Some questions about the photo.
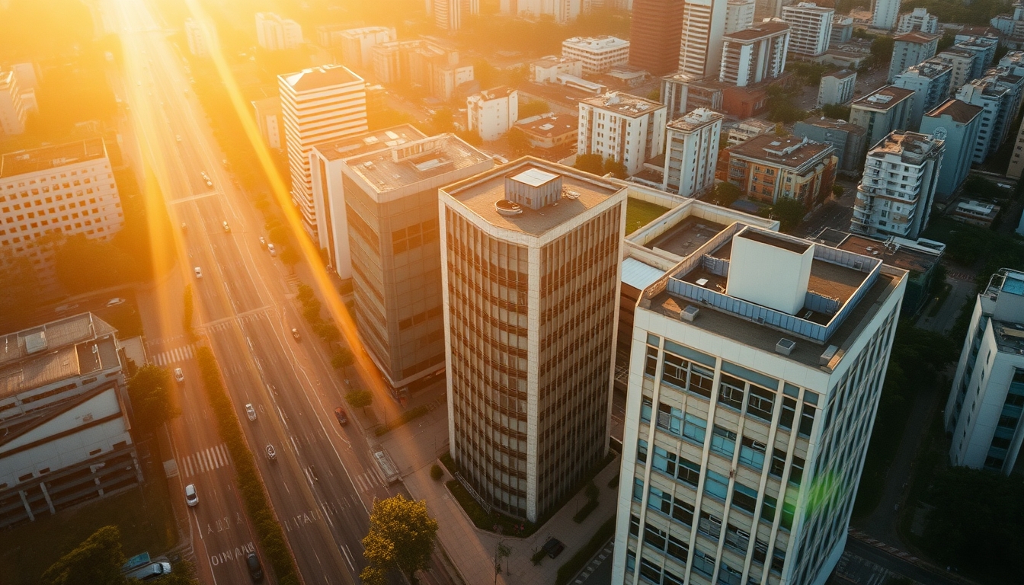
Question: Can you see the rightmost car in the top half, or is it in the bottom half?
bottom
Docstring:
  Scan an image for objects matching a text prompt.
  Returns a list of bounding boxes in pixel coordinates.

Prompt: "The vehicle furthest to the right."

[539,539,563,559]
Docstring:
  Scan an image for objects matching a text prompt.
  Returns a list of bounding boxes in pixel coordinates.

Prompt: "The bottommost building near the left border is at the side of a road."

[0,305,148,522]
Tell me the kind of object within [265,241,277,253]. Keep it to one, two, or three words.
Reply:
vehicle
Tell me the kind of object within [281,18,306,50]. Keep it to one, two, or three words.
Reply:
building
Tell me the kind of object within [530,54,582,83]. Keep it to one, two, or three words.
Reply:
house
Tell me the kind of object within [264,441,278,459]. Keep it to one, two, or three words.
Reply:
car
